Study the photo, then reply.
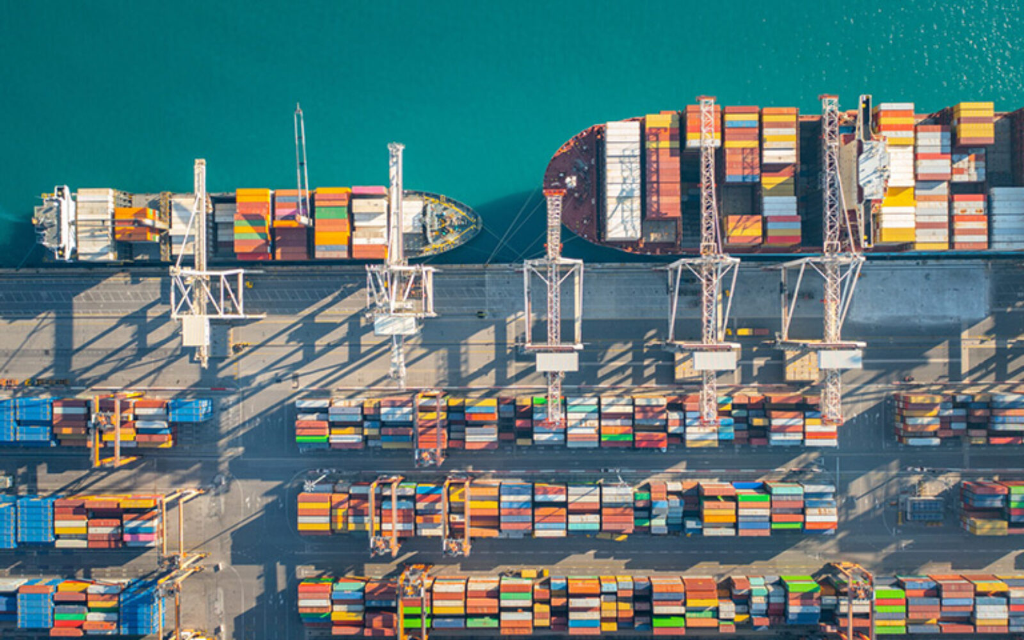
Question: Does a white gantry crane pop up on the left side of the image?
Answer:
Yes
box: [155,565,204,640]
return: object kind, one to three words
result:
container crane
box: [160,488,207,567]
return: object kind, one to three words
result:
container crane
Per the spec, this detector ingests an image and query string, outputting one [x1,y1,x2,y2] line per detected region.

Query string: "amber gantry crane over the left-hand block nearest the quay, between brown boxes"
[91,390,146,466]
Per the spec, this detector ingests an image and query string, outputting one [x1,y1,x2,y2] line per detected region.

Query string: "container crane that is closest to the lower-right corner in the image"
[828,559,875,640]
